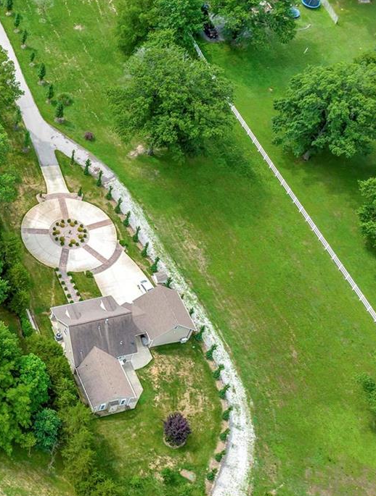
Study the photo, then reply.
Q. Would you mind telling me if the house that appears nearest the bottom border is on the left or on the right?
left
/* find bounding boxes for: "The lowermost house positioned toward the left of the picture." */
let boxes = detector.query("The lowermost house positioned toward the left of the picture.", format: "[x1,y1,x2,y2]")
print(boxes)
[51,285,197,418]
